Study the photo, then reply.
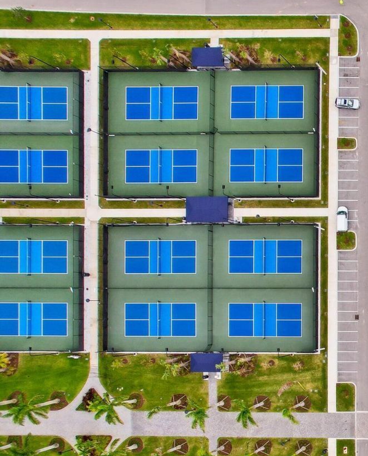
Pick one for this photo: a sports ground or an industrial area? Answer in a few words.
sports ground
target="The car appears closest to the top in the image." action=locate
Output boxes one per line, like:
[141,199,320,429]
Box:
[336,96,360,109]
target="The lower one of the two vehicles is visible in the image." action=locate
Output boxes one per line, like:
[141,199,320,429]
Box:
[335,207,348,232]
